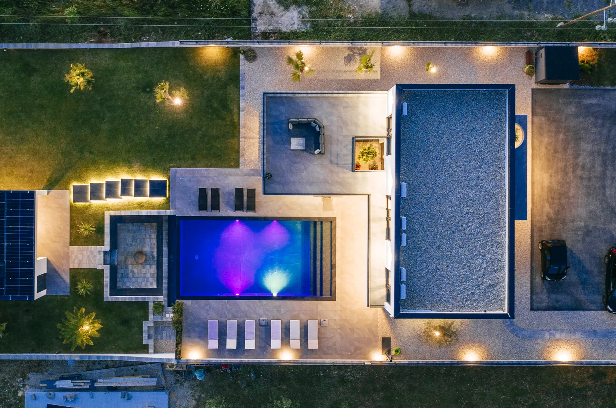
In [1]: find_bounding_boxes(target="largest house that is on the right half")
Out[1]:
[262,83,528,320]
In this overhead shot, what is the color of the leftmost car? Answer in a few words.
black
